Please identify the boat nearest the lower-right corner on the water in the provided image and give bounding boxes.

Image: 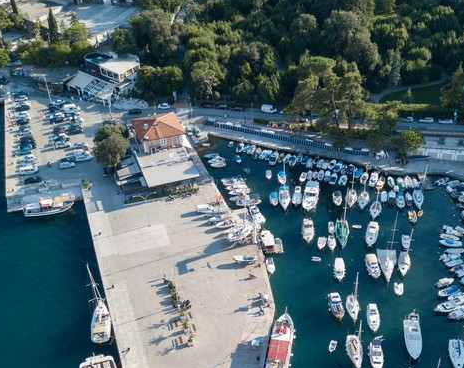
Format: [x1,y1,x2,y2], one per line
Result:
[445,325,464,368]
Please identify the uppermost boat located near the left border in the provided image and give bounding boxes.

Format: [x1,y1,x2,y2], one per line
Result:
[23,189,73,219]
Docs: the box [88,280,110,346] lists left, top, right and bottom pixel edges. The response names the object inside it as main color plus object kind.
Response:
white boat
